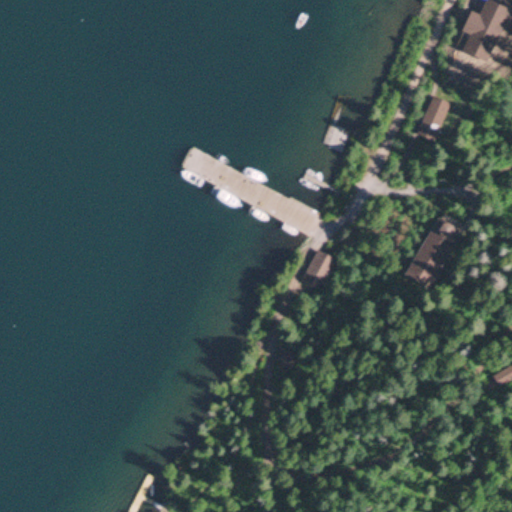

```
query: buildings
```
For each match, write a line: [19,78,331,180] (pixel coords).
[462,0,512,62]
[424,96,451,130]
[408,221,458,284]
[496,366,512,387]
[308,250,332,279]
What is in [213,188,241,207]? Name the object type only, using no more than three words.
boat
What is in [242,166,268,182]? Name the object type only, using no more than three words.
boat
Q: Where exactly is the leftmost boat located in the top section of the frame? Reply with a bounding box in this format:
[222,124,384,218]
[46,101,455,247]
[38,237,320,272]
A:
[182,172,206,188]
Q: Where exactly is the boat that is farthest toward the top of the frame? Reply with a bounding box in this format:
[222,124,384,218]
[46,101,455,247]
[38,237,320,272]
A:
[297,12,309,28]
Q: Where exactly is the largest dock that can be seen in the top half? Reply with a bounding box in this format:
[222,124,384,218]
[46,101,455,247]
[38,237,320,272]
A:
[184,148,321,234]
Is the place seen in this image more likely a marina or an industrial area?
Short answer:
marina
